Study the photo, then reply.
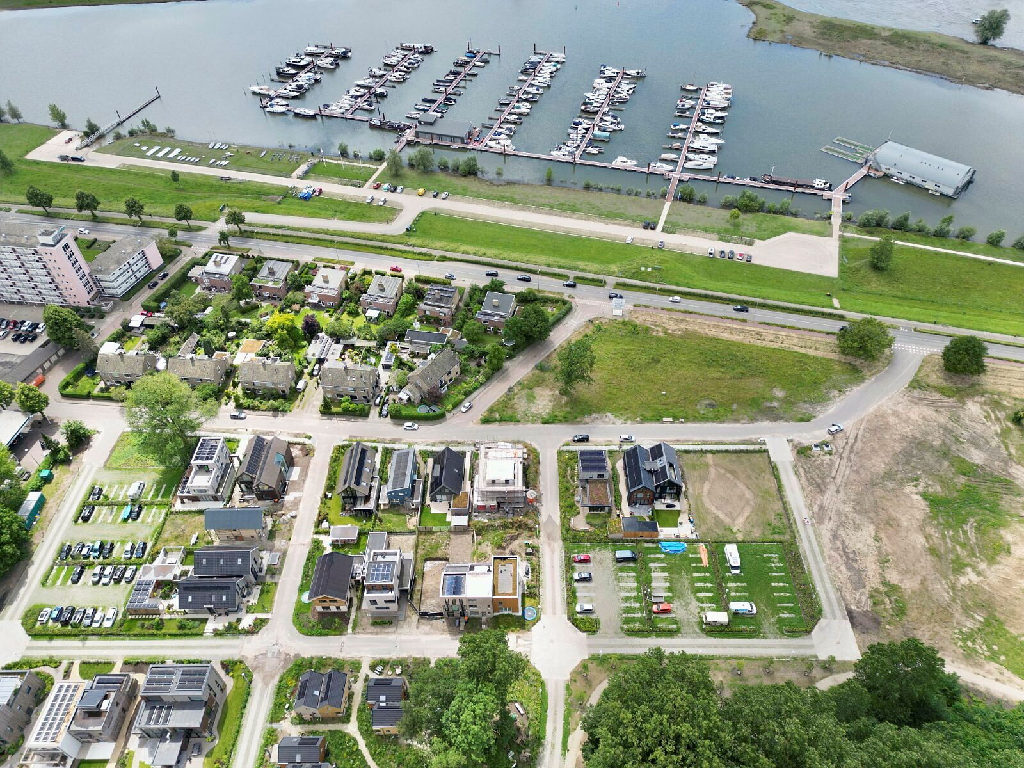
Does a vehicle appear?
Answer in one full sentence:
Yes, I can see a vehicle in this picture.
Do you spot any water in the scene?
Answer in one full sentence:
Yes, the picture does contain water.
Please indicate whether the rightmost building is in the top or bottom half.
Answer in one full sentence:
Seen from above, the rightmost building lies in the top half of the view.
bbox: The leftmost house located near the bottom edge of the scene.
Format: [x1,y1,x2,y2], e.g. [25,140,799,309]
[0,651,51,748]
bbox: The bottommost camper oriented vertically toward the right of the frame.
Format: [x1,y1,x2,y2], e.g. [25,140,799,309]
[726,539,740,576]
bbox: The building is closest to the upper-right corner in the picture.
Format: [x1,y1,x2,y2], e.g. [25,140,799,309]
[867,136,972,202]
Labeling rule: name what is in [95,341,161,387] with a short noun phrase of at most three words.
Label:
house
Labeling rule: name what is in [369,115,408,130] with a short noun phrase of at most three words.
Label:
ship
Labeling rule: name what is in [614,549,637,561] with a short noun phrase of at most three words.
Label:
vehicle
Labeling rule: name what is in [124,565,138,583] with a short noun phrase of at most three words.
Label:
car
